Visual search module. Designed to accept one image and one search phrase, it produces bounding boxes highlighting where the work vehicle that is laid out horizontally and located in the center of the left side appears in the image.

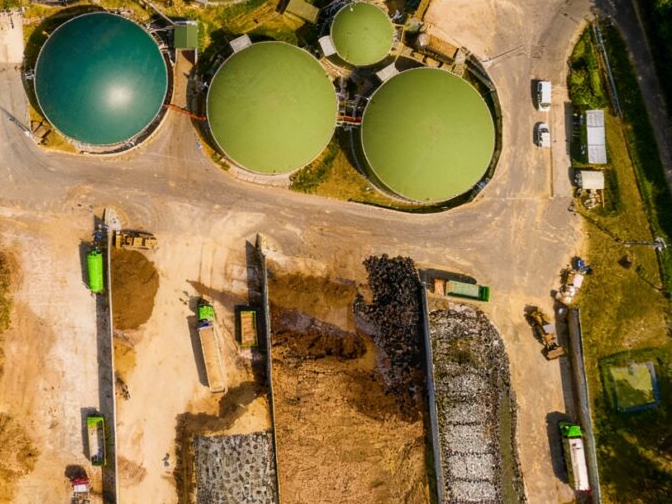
[114,232,158,249]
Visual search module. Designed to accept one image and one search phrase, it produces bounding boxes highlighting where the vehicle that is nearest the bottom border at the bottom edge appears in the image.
[70,475,89,504]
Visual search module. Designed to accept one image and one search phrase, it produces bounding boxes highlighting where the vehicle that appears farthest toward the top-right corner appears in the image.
[535,82,550,112]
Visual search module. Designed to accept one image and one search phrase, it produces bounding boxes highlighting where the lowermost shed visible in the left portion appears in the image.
[174,24,198,51]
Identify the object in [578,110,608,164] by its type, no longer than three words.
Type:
building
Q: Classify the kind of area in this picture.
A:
industrial area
